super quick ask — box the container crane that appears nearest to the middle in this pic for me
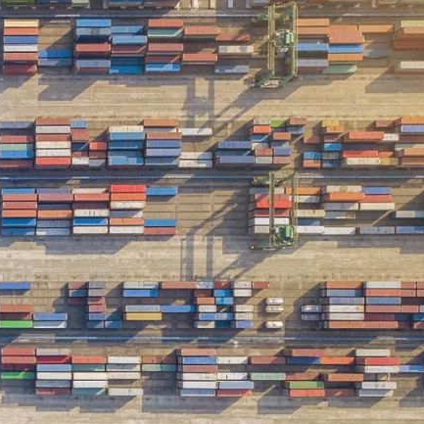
[250,174,299,250]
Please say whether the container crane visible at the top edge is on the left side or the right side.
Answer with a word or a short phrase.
right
